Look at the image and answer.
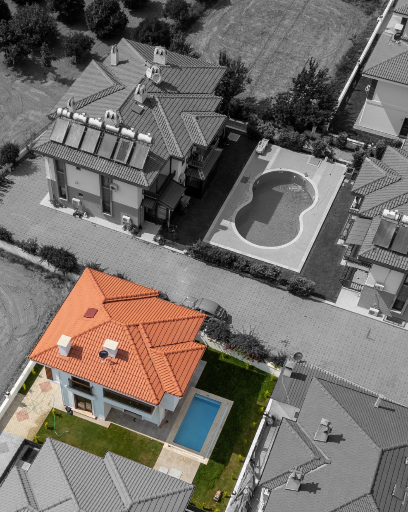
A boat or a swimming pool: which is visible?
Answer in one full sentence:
Visible in the photo is a swimming pool.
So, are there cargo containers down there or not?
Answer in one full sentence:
No, I can't see a single cargo container in this photo.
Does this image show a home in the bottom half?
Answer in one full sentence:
Yes, a home is visible in the bottom half.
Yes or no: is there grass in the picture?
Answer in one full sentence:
Yes, there's grass in this view.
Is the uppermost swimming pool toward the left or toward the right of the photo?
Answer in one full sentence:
You can find the uppermost swimming pool on the right side of the picture.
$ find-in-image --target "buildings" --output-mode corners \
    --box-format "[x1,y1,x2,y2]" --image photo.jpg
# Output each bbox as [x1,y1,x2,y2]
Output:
[0,436,196,512]
[346,23,408,141]
[28,265,208,429]
[33,38,236,242]
[256,375,408,512]
[333,133,408,330]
